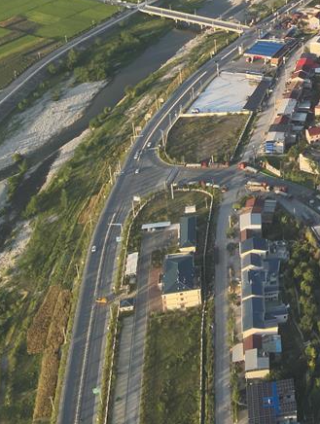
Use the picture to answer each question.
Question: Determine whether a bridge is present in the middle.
No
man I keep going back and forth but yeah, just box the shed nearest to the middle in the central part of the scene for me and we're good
[141,214,171,231]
